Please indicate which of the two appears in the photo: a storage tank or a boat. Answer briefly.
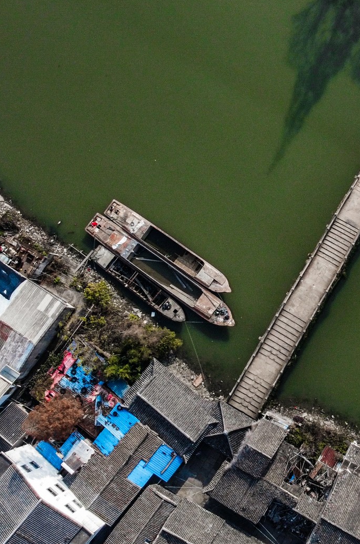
boat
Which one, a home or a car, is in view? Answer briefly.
home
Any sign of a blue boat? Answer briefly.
No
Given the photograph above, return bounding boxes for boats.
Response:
[91,245,187,323]
[84,212,236,329]
[103,196,234,295]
